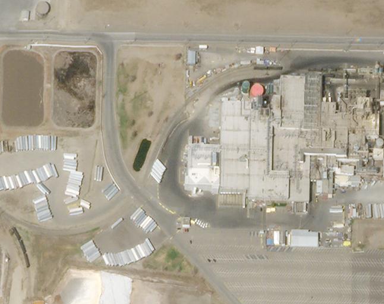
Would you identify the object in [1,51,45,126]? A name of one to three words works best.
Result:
pond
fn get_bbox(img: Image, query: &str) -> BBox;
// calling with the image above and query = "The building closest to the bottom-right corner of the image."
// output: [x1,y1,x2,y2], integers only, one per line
[290,230,319,249]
